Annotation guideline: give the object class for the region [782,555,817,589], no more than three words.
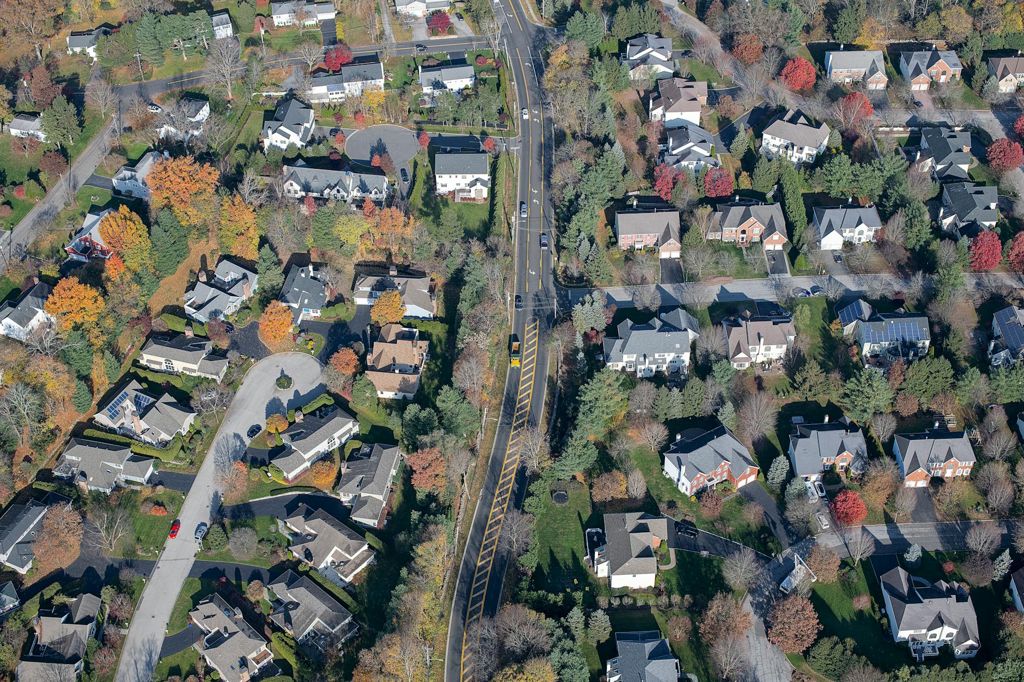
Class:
truck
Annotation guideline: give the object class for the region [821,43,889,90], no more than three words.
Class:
house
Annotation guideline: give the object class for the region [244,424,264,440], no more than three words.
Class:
car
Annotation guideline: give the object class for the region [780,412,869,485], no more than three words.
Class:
house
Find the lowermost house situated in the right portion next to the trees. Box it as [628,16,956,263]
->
[604,622,677,682]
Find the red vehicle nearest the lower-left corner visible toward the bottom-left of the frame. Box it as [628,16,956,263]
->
[168,521,181,540]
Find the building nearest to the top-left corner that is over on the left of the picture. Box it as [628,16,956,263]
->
[66,22,108,57]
